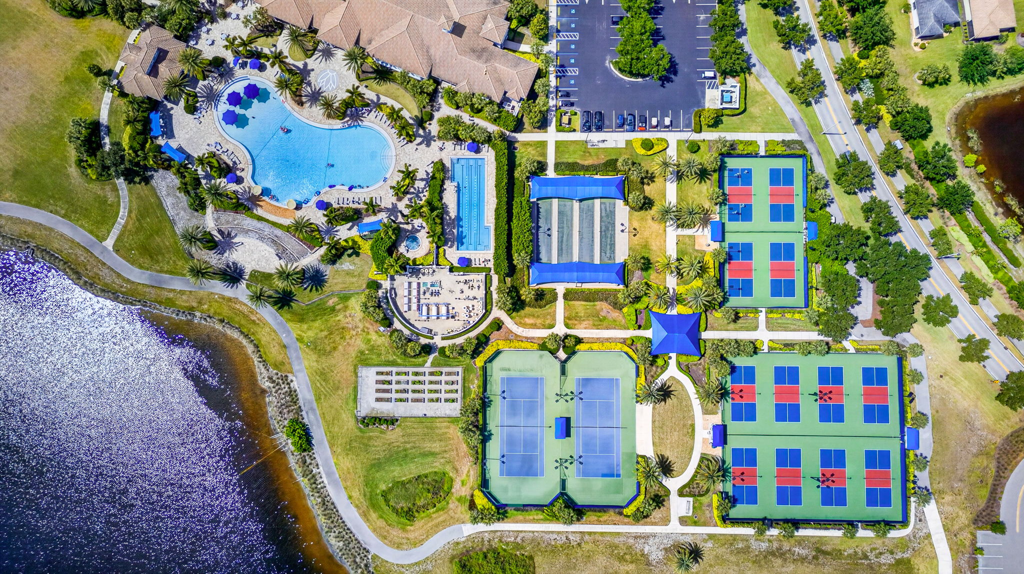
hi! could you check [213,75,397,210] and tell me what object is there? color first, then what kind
blue swimming pool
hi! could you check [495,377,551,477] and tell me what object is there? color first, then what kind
blue tennis court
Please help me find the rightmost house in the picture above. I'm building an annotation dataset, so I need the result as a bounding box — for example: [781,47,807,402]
[963,0,1017,41]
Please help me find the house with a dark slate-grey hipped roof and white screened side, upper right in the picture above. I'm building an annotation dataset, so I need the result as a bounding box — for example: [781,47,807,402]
[908,0,961,41]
